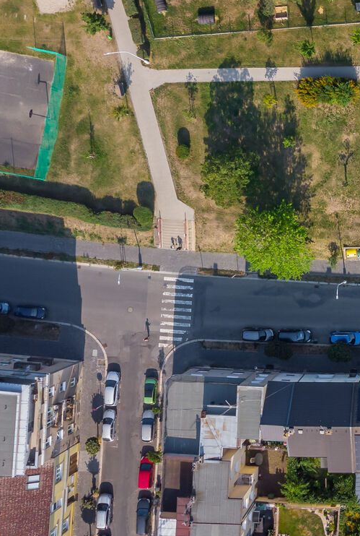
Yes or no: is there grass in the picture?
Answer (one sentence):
Yes, there's grass in this view.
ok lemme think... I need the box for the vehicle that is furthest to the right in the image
[331,331,360,346]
